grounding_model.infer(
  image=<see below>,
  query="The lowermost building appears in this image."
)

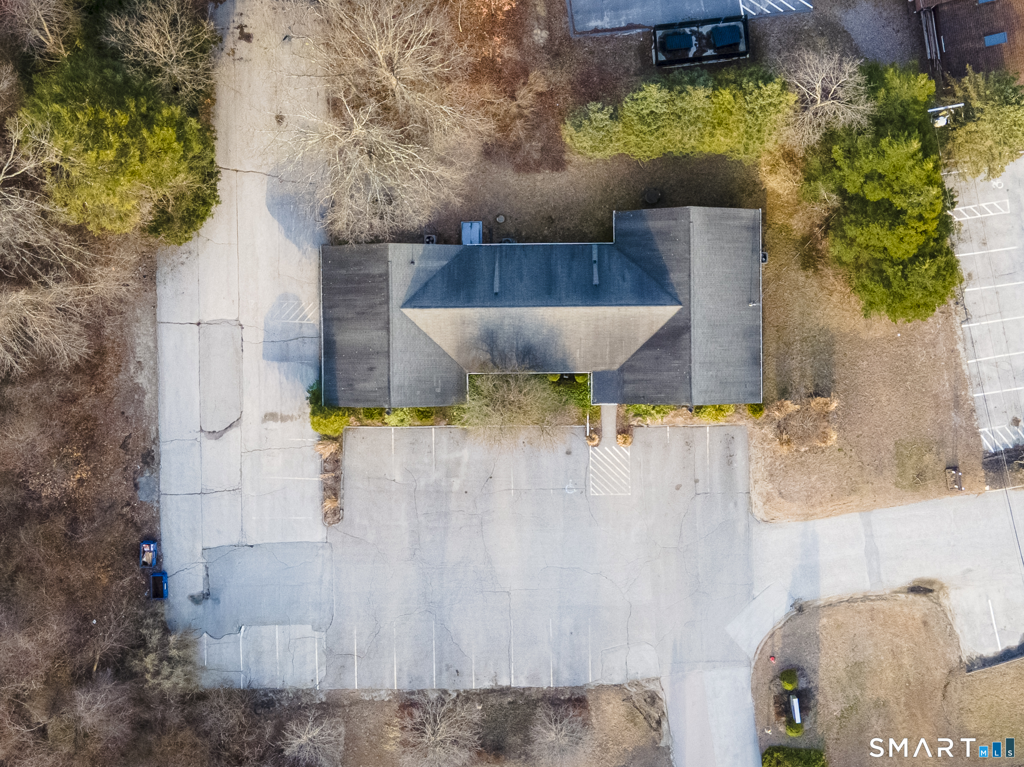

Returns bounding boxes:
[319,204,765,415]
